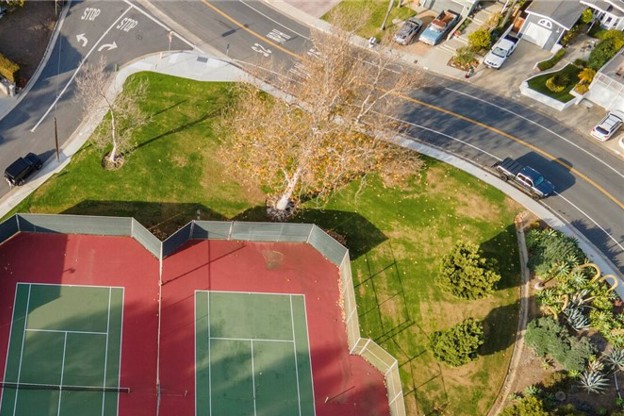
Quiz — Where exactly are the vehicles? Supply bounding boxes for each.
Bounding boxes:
[485,30,524,68]
[498,155,560,199]
[394,16,423,43]
[5,155,41,185]
[422,4,461,43]
[592,109,624,142]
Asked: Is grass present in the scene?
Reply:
Yes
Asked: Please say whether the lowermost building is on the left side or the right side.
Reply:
right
